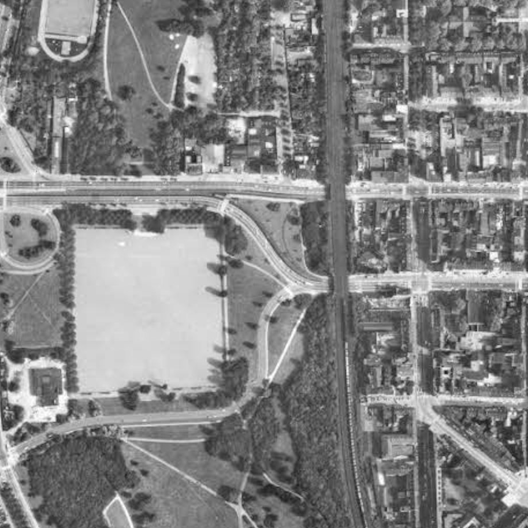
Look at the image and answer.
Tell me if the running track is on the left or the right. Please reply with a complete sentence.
The running track appears in the left half of the scene.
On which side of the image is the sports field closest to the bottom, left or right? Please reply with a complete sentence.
It is on the left.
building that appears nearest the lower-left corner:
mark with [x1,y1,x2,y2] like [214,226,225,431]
[28,368,63,406]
